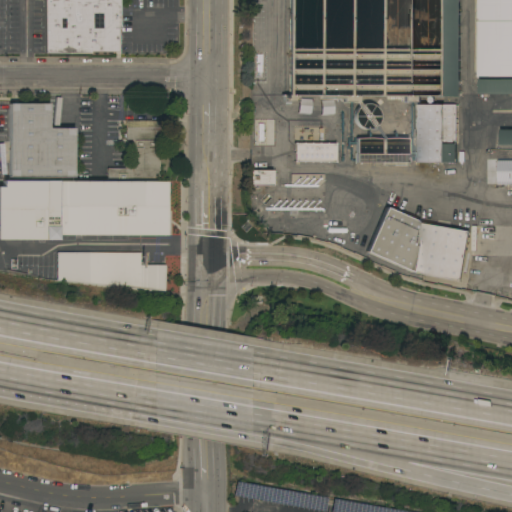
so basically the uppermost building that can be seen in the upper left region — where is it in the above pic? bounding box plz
[47,0,123,54]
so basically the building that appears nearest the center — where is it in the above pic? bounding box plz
[253,170,276,186]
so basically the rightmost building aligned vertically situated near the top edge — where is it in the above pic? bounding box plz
[476,0,512,78]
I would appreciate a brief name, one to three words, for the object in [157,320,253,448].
overpass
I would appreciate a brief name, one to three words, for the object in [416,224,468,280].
building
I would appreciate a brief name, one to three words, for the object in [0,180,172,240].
building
